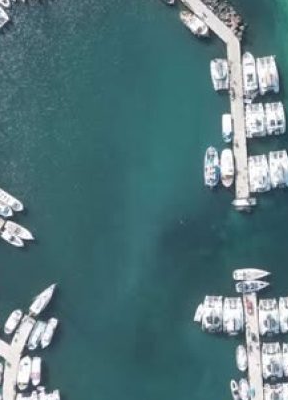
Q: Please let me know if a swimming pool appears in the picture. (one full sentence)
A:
No, the frame has no swimming pool in it.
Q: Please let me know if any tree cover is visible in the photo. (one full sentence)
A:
No, tree cover can't be seen anywhere here.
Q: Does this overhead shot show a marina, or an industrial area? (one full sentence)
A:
This image shows a marina.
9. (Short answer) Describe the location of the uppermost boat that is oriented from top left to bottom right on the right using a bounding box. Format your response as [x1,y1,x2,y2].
[179,9,209,38]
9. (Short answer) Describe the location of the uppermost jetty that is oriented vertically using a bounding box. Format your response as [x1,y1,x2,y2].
[180,0,250,199]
